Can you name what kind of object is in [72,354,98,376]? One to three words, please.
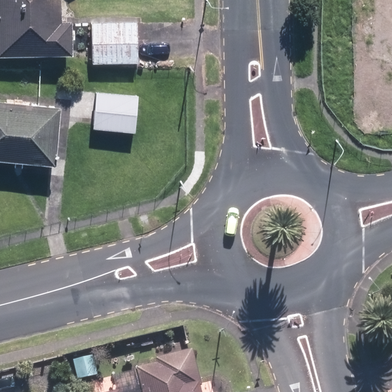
shed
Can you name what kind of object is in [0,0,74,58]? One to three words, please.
house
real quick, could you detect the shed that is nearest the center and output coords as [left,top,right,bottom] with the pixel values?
[92,92,140,134]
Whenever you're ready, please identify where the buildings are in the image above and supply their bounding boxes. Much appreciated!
[92,92,140,134]
[72,354,98,376]
[0,102,62,168]
[91,22,139,66]
[136,348,204,392]
[0,0,74,58]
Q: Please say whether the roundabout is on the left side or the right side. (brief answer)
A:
right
